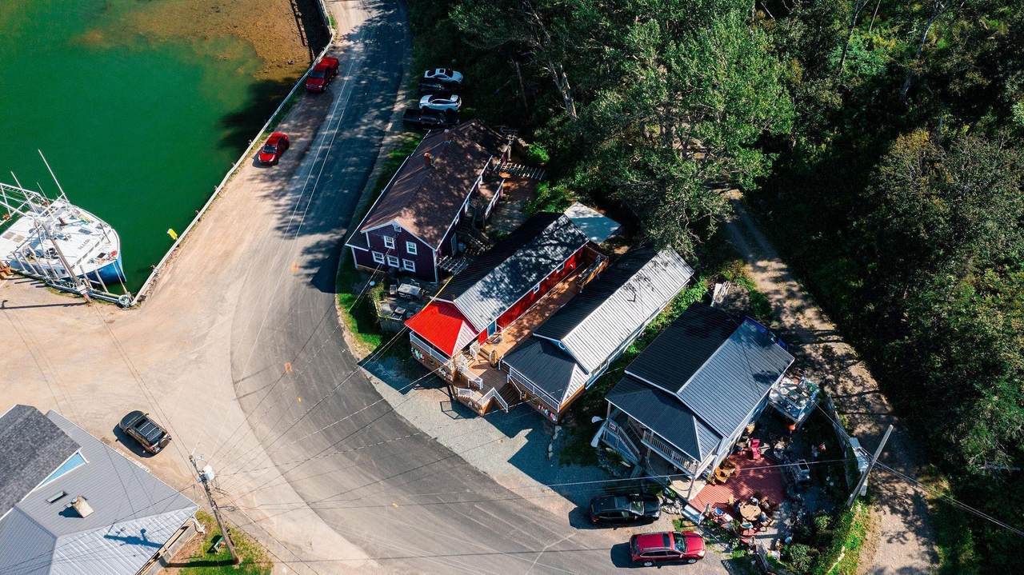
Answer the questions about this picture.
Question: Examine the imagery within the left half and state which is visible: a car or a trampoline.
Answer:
car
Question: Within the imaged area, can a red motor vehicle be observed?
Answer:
Yes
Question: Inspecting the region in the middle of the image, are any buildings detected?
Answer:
Yes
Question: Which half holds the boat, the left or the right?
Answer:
left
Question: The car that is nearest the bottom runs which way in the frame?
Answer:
horizontally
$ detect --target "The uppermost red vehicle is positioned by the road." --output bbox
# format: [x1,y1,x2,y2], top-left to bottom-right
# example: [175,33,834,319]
[301,54,341,90]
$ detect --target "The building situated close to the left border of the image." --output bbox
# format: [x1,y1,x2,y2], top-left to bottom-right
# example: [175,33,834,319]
[0,396,202,575]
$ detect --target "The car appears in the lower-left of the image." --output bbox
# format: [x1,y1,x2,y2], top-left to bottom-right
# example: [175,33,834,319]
[108,408,175,457]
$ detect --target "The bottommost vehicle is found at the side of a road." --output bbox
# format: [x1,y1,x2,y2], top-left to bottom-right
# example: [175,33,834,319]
[623,522,708,564]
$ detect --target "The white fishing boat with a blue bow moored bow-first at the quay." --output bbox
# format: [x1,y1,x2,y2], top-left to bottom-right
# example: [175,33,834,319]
[0,139,130,283]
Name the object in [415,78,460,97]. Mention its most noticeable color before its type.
black car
